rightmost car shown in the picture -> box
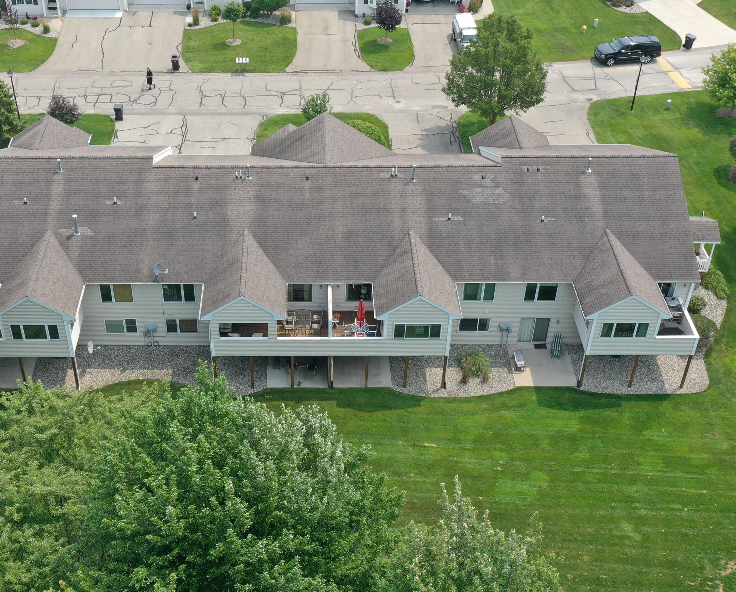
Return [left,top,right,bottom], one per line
[592,25,665,59]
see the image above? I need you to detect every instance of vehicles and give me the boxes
[448,4,484,43]
[592,25,665,59]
